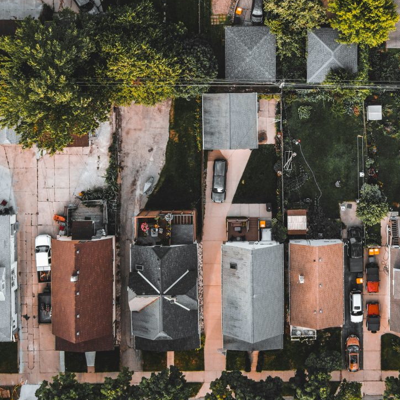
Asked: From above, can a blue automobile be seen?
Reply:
No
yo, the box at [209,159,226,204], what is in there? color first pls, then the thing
gray vehicle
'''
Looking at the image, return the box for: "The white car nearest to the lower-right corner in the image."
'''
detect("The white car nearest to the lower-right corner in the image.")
[349,291,366,326]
